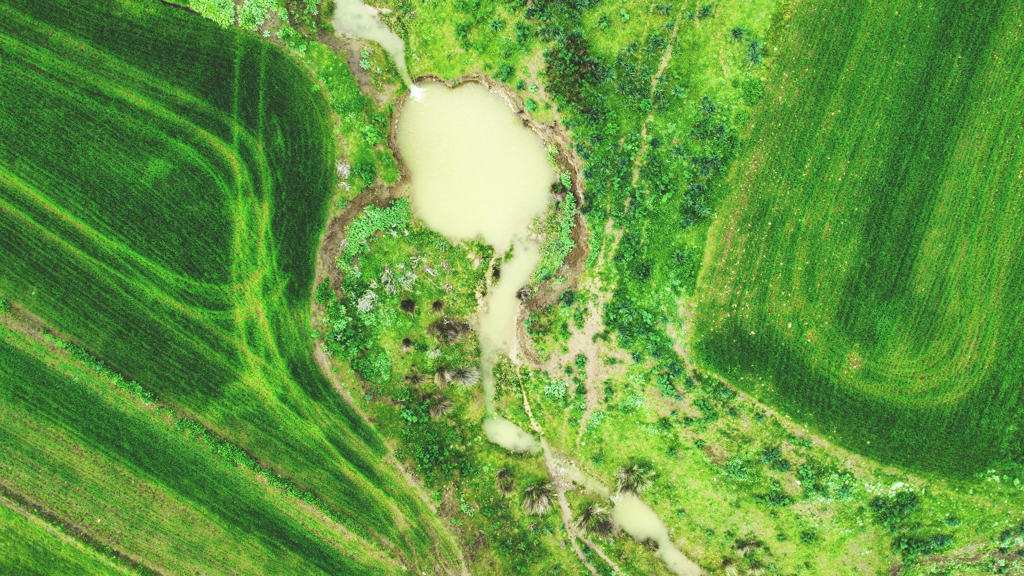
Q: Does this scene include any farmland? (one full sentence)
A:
Yes, the picture does contain farmland.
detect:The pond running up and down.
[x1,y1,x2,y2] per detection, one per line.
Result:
[396,80,555,421]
